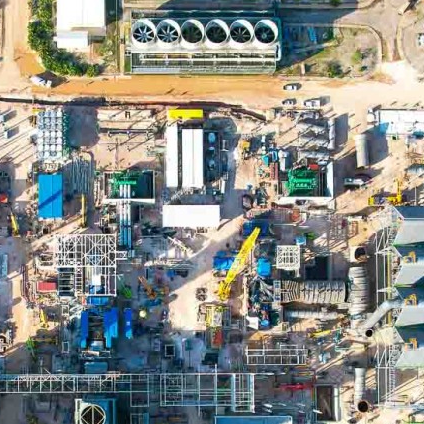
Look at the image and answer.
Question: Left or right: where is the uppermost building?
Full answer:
The uppermost building sits on the left side.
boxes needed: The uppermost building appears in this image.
[56,0,105,38]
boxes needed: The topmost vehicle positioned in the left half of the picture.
[30,74,50,88]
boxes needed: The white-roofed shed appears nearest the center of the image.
[161,205,220,232]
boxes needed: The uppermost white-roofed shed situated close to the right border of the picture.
[379,110,424,139]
